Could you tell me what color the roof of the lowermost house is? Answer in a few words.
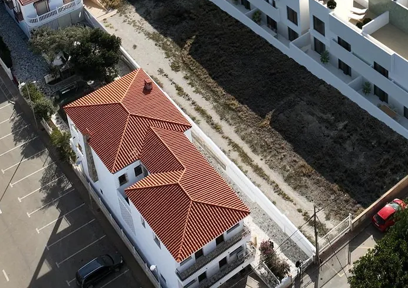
red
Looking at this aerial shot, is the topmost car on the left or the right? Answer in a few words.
right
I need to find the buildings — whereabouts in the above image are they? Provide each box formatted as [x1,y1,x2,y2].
[61,68,261,288]
[307,0,408,121]
[2,0,87,45]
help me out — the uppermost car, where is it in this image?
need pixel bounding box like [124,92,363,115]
[370,197,408,228]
